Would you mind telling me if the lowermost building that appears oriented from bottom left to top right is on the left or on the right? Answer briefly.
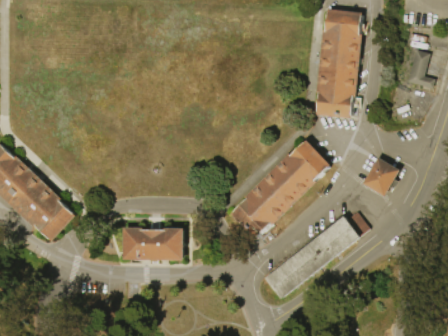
right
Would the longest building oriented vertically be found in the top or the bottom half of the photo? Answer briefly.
top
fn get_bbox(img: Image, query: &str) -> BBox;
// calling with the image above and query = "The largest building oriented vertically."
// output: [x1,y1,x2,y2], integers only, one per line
[314,10,366,118]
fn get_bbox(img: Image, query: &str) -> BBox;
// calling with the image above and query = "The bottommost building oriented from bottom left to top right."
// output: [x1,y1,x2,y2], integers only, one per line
[266,217,360,299]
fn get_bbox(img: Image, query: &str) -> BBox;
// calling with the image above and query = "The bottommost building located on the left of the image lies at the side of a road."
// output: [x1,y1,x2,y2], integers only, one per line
[123,228,186,264]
